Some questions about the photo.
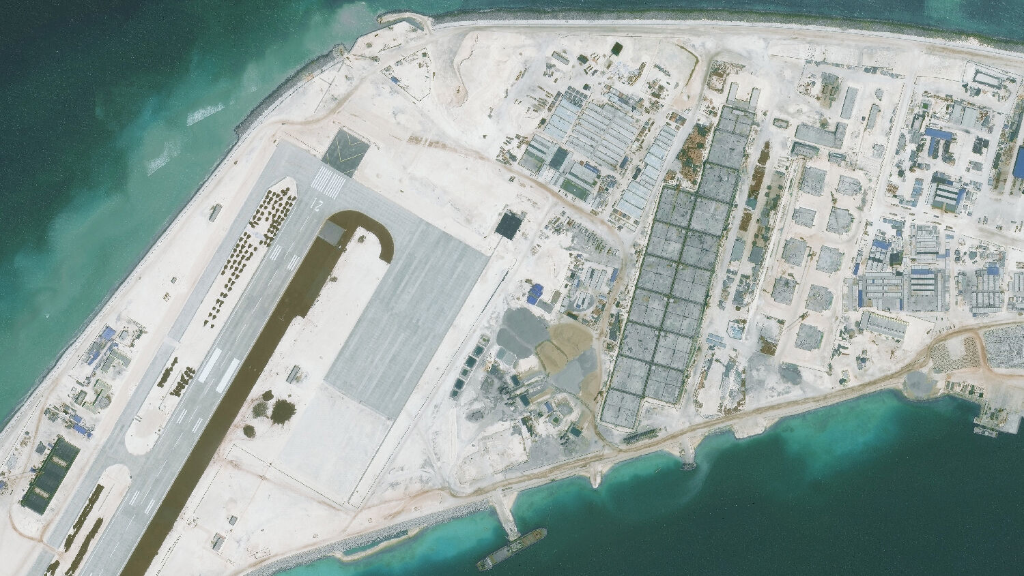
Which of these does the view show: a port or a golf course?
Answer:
port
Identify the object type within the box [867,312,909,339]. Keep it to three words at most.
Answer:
building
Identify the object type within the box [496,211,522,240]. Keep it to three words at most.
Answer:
building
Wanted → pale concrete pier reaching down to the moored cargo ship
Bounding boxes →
[492,492,521,541]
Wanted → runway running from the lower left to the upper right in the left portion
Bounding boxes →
[77,161,369,576]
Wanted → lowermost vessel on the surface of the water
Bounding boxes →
[476,530,547,571]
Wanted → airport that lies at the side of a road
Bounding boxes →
[27,127,489,576]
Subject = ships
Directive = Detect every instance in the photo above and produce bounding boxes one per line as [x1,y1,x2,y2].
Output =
[476,530,547,571]
[974,427,998,438]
